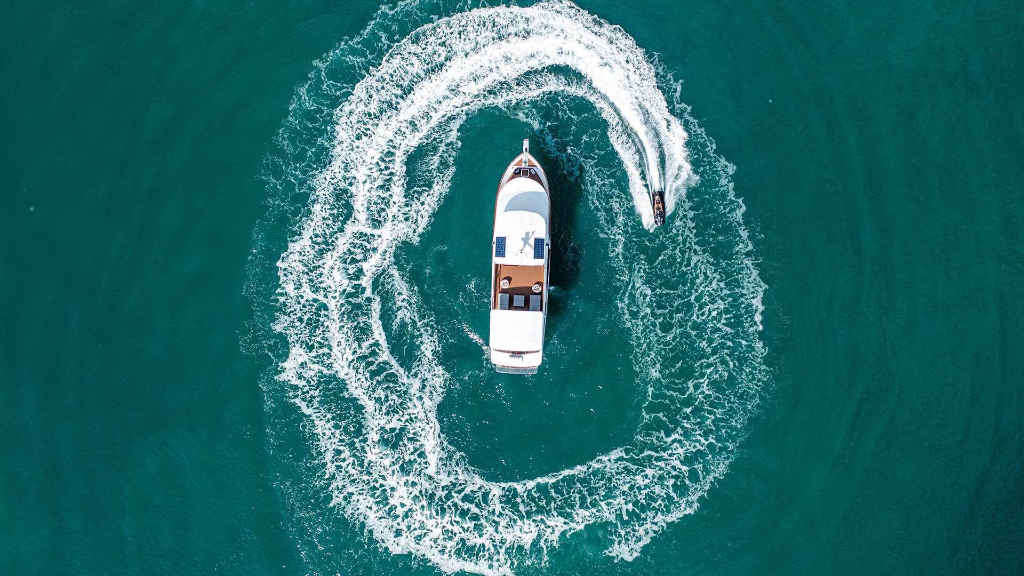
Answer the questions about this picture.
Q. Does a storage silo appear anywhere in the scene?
No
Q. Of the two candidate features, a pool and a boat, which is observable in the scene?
boat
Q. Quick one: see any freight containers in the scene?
No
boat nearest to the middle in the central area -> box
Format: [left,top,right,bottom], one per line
[490,139,551,374]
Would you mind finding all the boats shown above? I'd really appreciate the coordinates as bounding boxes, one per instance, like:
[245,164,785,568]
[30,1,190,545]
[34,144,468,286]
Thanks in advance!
[651,192,665,227]
[490,139,551,374]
